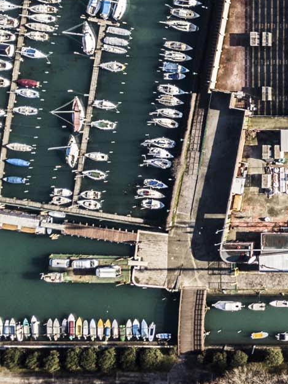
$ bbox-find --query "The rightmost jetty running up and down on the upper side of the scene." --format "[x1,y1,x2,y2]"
[73,22,104,205]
